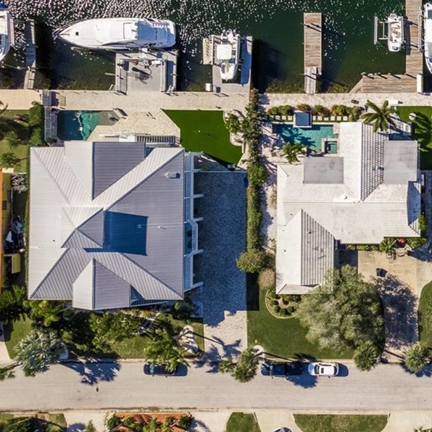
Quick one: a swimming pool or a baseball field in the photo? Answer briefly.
swimming pool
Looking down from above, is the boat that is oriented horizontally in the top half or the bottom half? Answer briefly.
top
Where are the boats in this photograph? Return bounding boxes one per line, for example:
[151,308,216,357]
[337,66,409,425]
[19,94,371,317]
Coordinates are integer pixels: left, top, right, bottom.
[0,0,15,68]
[388,10,403,51]
[217,29,238,79]
[51,18,180,50]
[425,0,432,70]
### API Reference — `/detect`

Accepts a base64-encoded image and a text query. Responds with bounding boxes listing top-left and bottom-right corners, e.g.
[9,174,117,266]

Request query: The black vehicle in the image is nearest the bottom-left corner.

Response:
[144,363,178,379]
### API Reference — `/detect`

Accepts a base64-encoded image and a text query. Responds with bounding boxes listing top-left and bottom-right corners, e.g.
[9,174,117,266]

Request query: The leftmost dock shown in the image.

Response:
[23,17,46,90]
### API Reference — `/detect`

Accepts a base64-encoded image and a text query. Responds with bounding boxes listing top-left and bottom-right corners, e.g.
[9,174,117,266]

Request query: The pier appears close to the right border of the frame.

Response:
[351,0,424,92]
